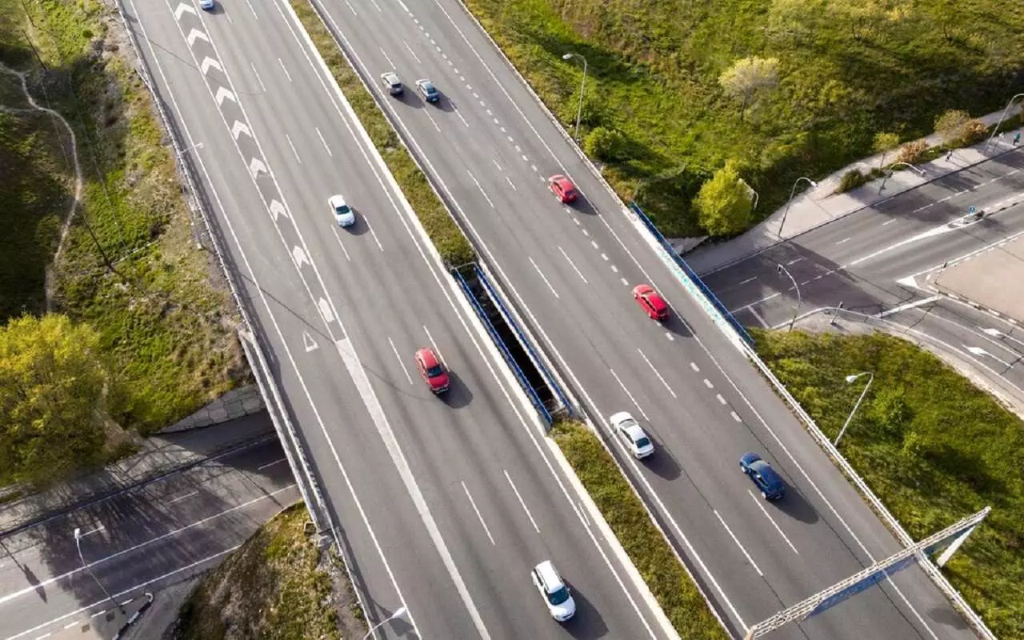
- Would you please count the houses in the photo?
0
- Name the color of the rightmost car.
blue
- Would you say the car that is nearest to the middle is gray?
No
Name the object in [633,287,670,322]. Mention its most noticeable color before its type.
red car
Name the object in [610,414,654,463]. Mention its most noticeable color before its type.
white car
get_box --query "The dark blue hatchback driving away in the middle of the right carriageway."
[739,454,787,504]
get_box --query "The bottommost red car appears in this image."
[415,348,450,392]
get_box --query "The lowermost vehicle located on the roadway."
[530,561,575,622]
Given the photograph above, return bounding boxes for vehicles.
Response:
[739,454,787,504]
[416,81,440,104]
[381,73,404,97]
[530,561,575,622]
[610,414,654,463]
[327,196,354,226]
[633,287,670,322]
[415,348,450,392]
[548,177,577,204]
